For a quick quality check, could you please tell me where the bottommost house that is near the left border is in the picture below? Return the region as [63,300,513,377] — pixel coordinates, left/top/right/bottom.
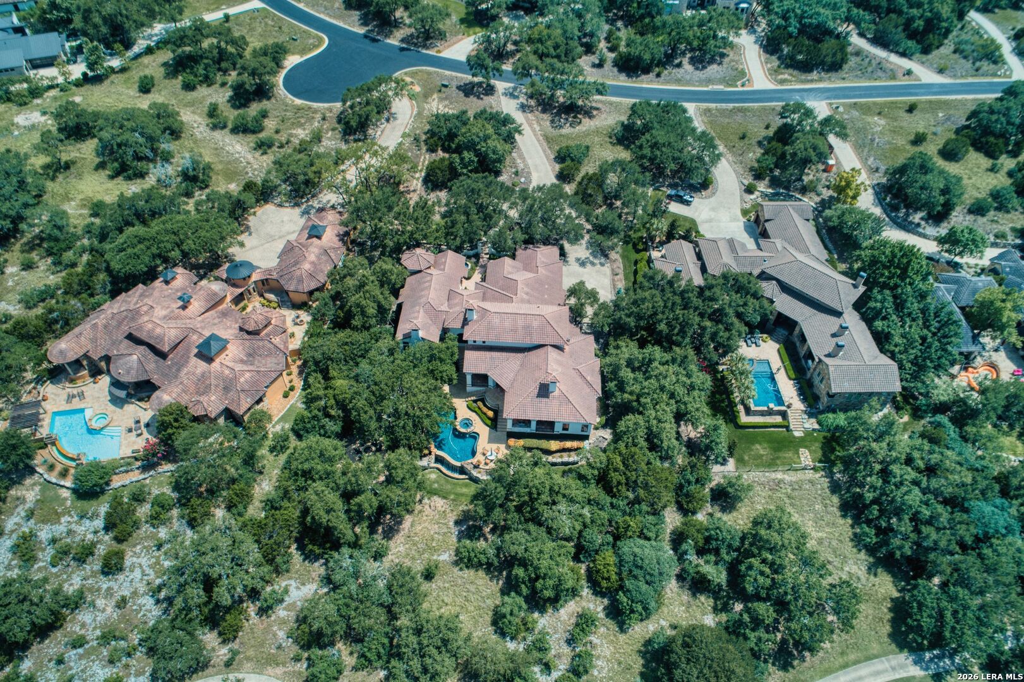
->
[47,207,350,421]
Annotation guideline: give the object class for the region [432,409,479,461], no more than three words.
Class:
swimming pool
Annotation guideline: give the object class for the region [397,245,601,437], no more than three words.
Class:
house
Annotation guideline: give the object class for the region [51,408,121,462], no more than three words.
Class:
swimming pool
